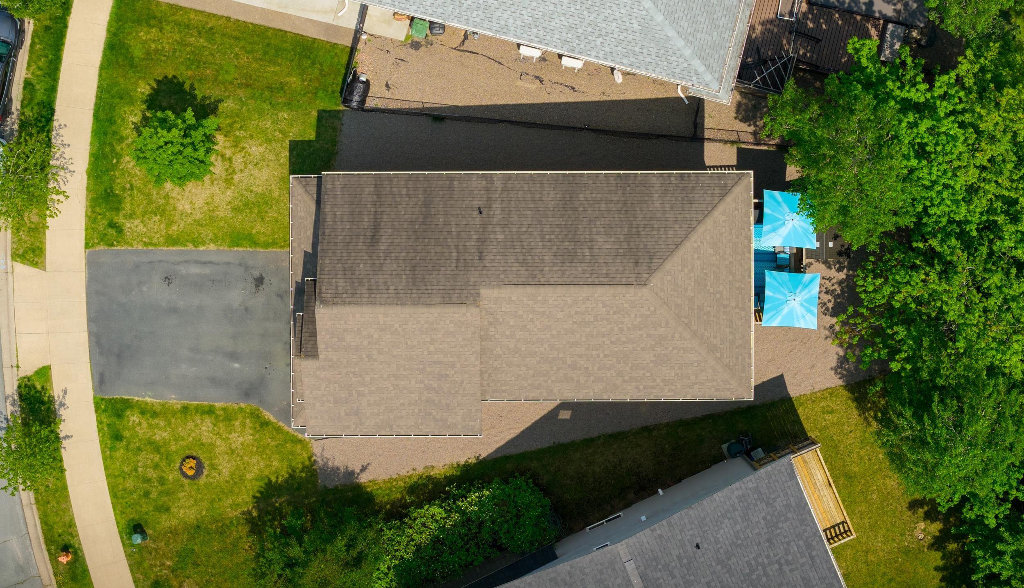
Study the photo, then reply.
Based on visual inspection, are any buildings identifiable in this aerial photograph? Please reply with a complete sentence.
Yes, a building appears in the view.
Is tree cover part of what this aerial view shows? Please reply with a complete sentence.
Yes, there's tree cover in this view.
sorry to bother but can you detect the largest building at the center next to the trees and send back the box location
[290,171,754,437]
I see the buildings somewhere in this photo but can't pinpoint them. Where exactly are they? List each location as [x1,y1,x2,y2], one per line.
[335,0,756,105]
[290,171,754,437]
[455,452,853,588]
